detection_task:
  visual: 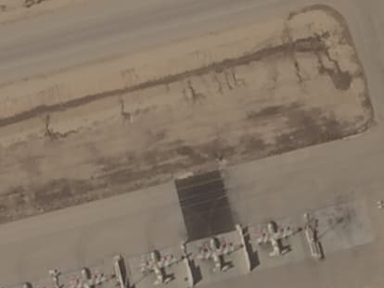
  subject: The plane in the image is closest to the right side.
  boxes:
[251,225,297,254]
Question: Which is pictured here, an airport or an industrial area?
airport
